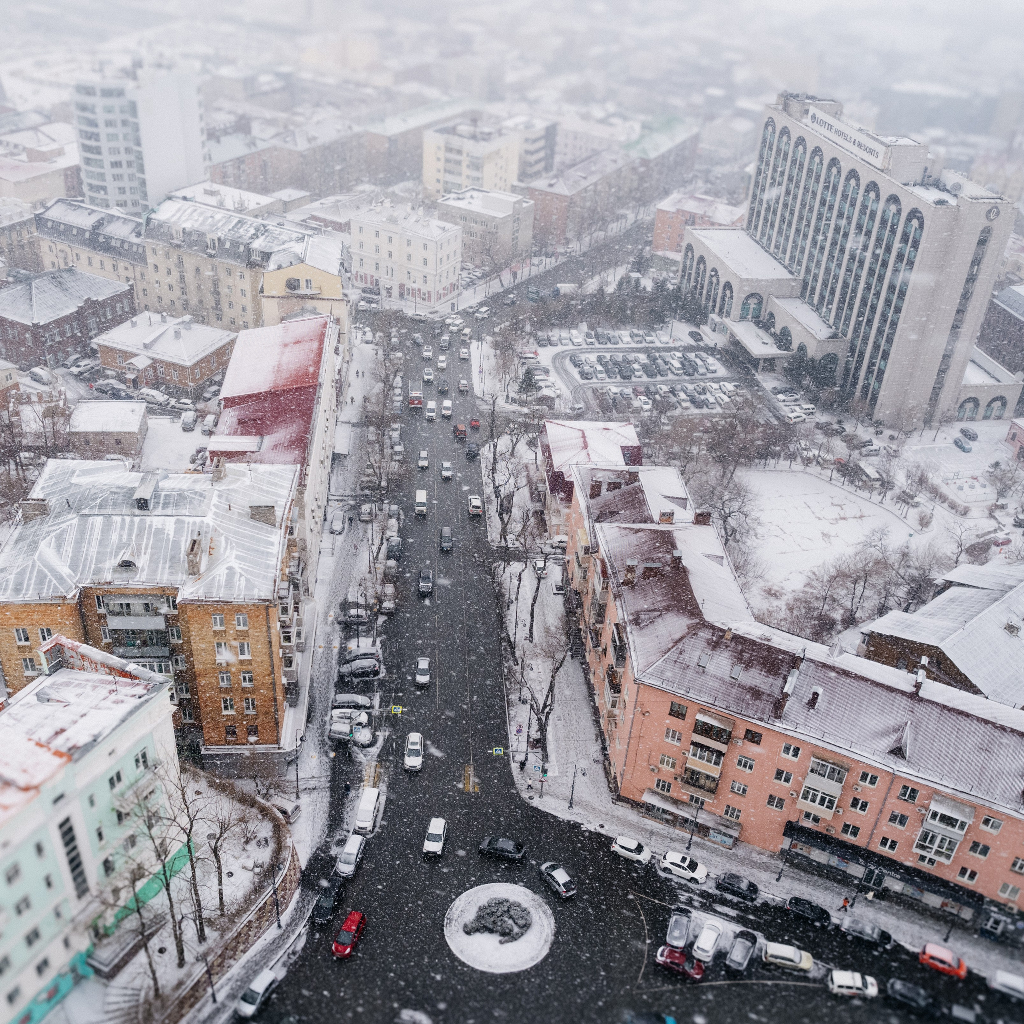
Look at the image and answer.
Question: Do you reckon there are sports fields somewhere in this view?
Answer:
Yes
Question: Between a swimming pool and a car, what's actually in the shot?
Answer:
car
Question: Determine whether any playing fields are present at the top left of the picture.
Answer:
No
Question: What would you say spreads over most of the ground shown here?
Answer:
buildings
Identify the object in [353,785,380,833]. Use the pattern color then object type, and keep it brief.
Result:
white vehicle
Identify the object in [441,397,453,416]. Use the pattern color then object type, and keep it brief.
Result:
white vehicle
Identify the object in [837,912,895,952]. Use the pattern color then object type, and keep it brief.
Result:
gray car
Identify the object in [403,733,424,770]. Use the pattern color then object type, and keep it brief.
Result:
white car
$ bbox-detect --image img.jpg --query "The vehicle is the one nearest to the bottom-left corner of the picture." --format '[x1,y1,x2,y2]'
[232,958,280,1024]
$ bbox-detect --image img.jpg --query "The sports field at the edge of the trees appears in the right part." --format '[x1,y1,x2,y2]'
[740,469,933,592]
